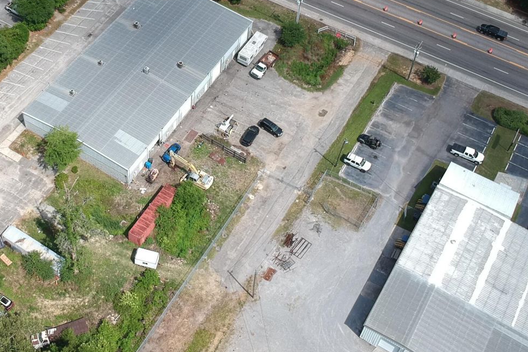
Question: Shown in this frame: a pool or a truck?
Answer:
truck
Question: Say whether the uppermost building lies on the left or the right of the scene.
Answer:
left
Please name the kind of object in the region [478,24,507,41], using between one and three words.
vehicle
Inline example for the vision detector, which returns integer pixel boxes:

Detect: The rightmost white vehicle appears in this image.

[450,142,484,165]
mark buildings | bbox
[360,185,528,352]
[22,0,253,183]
